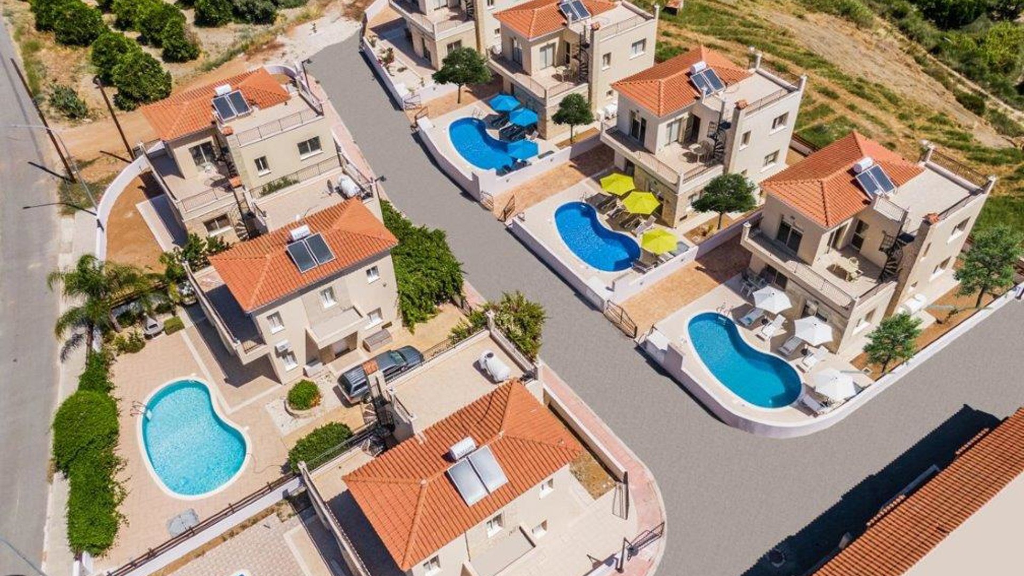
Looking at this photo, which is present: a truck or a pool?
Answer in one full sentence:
There is a pool in the scene.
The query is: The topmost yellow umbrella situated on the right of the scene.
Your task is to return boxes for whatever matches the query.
[602,177,632,202]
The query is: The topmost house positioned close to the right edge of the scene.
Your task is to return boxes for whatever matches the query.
[738,129,1000,354]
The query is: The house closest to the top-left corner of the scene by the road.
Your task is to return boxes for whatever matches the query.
[138,65,335,240]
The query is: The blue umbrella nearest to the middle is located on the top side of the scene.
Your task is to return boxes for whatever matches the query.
[505,146,538,182]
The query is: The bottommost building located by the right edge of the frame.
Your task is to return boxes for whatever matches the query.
[797,399,1024,576]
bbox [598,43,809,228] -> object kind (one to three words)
house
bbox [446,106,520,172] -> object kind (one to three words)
swimming pool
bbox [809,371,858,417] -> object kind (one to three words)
umbrella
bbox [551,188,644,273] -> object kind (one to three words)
swimming pool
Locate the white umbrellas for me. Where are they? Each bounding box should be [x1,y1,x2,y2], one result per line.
[790,318,835,364]
[752,290,792,331]
[809,371,858,417]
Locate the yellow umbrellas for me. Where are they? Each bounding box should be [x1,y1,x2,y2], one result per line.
[602,177,632,202]
[622,196,660,231]
[641,233,676,262]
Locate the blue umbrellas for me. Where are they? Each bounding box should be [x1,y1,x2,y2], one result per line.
[505,146,538,182]
[490,99,518,123]
[510,113,539,147]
